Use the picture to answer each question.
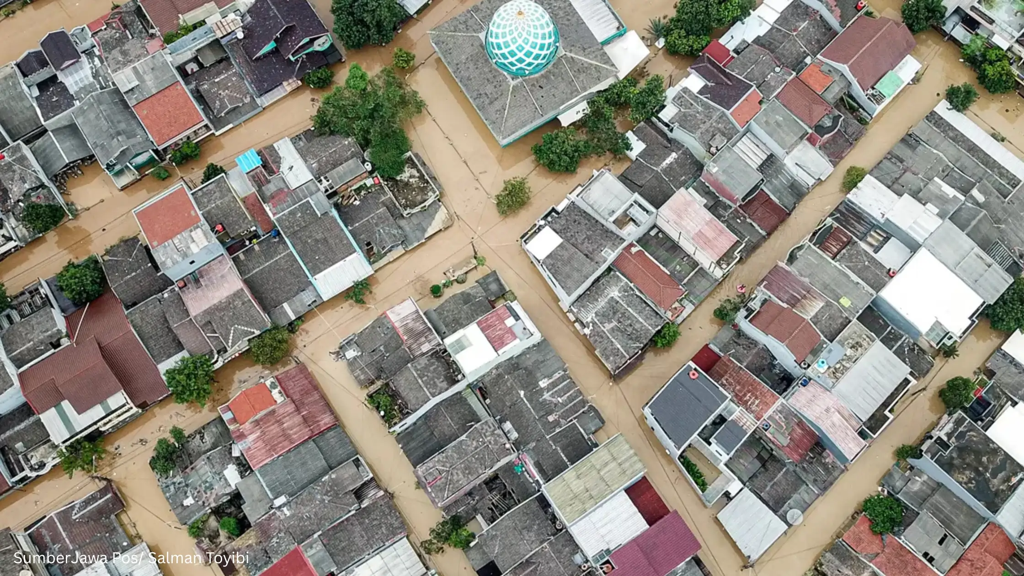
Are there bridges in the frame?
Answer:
No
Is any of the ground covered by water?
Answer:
Yes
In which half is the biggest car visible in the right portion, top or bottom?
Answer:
bottom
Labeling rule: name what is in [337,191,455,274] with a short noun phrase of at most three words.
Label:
house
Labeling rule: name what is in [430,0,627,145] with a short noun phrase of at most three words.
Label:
building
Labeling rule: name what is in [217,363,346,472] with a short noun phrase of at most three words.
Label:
house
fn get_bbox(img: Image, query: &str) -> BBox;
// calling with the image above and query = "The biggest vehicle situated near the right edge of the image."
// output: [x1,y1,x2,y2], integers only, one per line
[970,394,994,421]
